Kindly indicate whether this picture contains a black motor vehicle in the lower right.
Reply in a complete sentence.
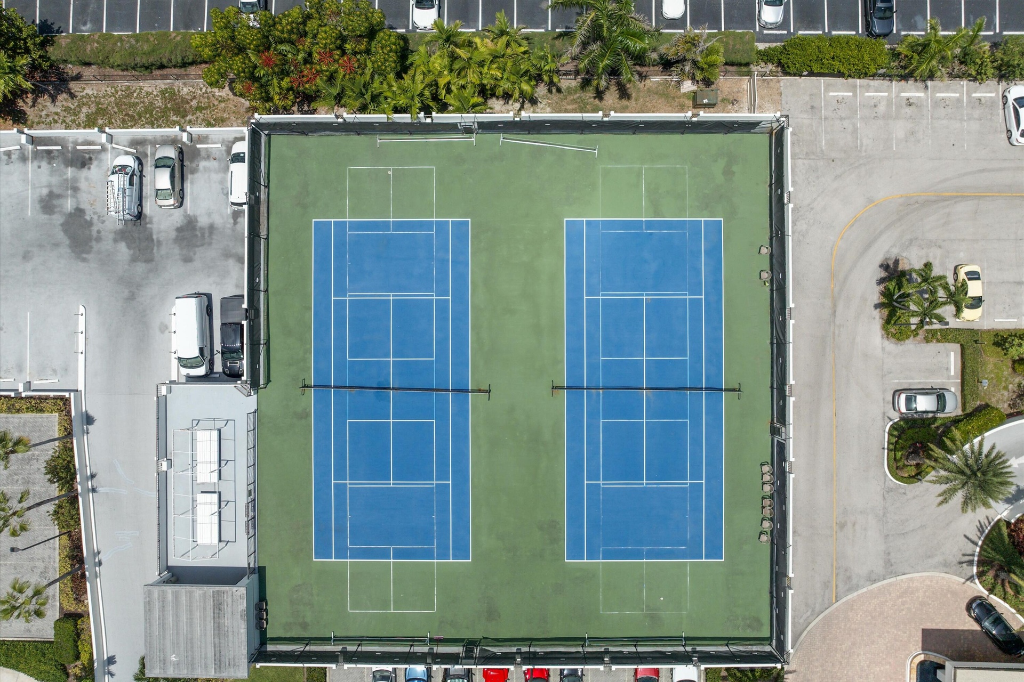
Yes, I can see a black motor vehicle in the lower right.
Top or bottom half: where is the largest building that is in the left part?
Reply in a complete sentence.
You can find the largest building that is in the left part in the bottom half.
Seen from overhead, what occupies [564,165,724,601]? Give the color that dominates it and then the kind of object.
blue tennis court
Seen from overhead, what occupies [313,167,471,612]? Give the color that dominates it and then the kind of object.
blue tennis court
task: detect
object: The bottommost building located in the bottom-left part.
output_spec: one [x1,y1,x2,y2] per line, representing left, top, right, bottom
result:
[144,575,266,678]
